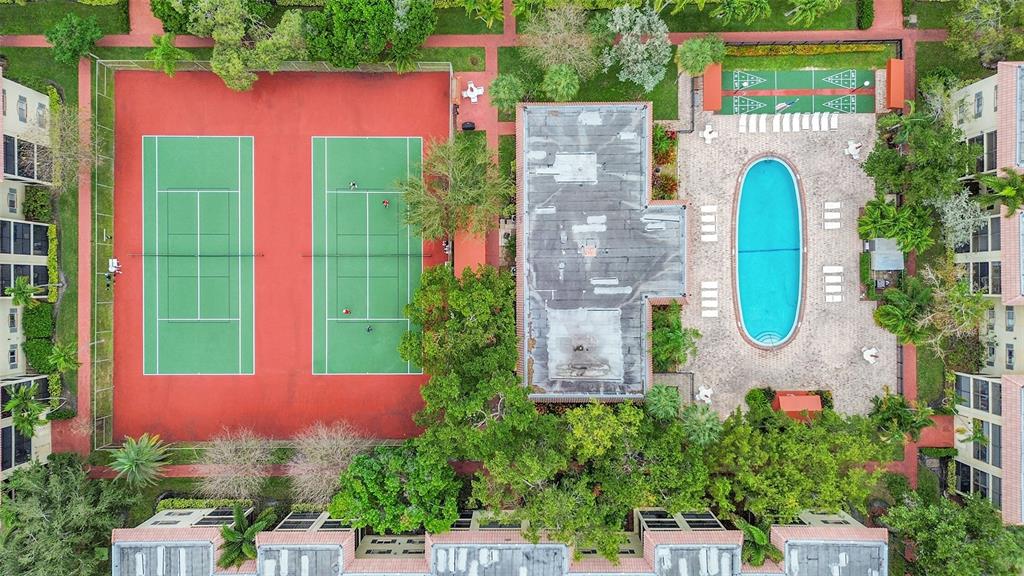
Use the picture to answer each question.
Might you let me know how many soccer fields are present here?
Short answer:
0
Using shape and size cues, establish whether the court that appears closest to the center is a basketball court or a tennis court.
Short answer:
tennis court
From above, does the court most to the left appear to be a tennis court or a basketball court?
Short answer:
tennis court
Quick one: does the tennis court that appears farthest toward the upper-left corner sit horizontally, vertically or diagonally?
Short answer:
vertically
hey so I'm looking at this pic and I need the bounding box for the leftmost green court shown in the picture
[143,136,253,375]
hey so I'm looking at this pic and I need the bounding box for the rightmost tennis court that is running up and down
[312,136,422,375]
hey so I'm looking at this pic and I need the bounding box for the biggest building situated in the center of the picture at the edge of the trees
[516,103,690,402]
